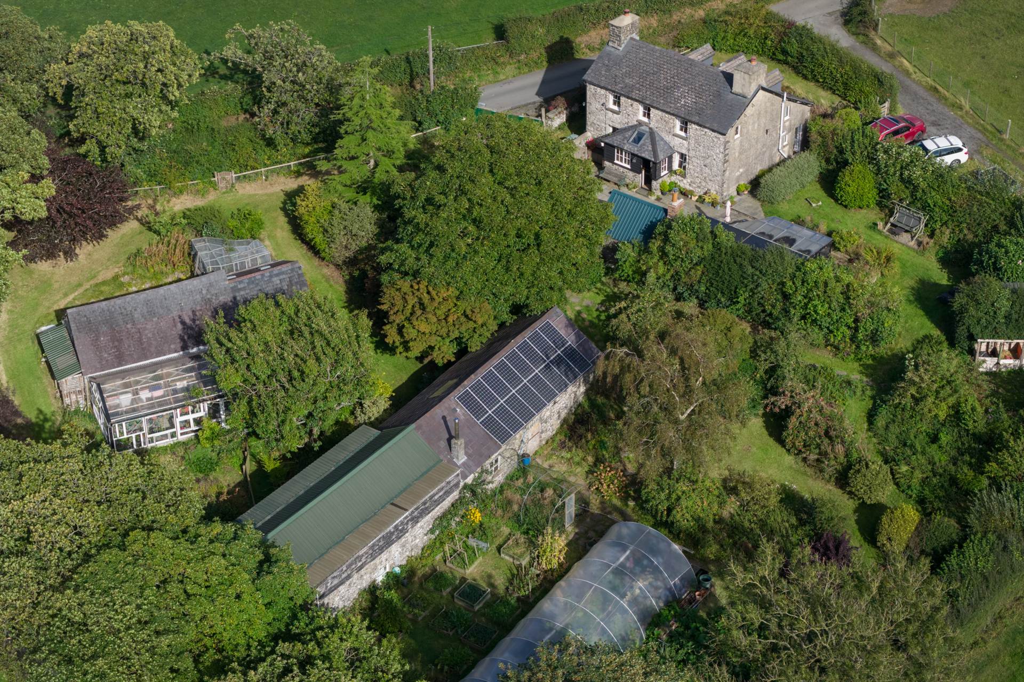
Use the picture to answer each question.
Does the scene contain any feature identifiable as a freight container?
No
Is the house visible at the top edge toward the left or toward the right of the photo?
right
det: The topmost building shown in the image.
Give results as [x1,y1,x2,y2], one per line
[582,11,814,197]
